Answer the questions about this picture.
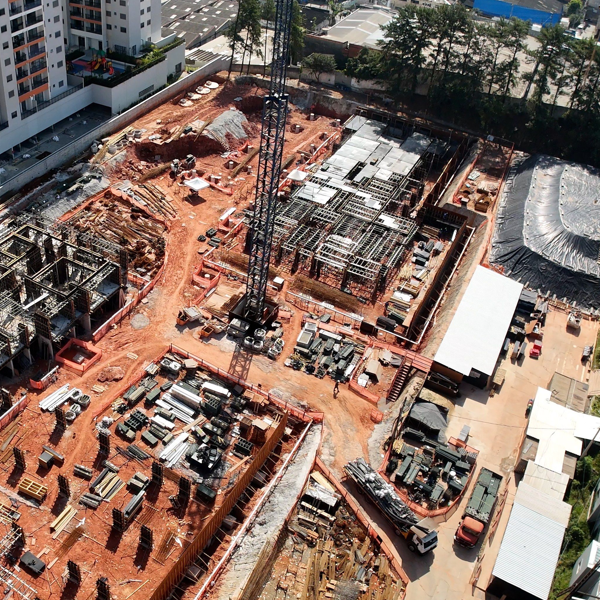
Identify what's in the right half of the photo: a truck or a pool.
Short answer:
truck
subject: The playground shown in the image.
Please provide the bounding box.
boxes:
[67,39,132,79]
